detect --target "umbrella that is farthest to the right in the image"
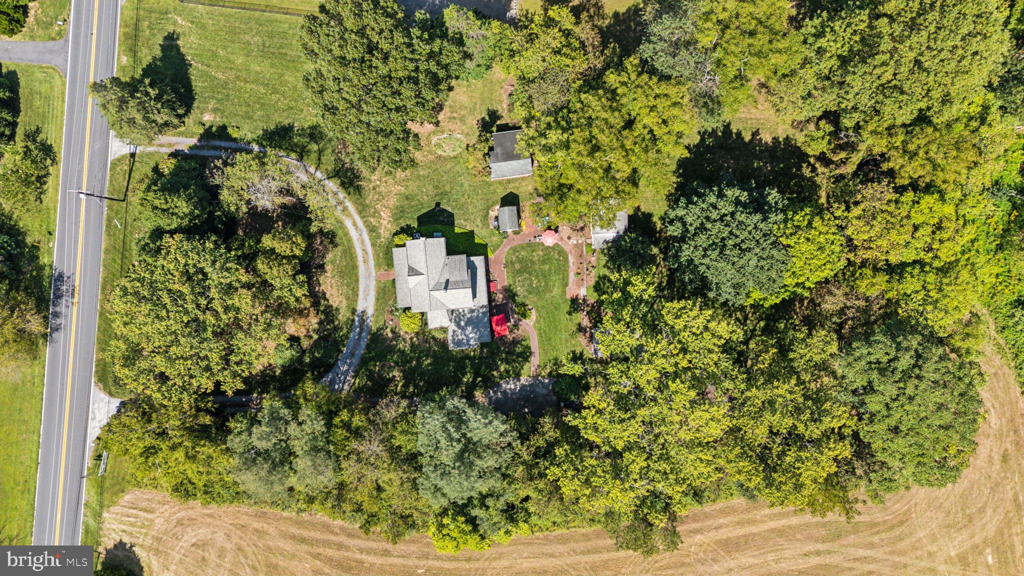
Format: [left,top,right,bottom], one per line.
[542,230,558,246]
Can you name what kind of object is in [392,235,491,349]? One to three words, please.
house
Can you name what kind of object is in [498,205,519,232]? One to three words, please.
shed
